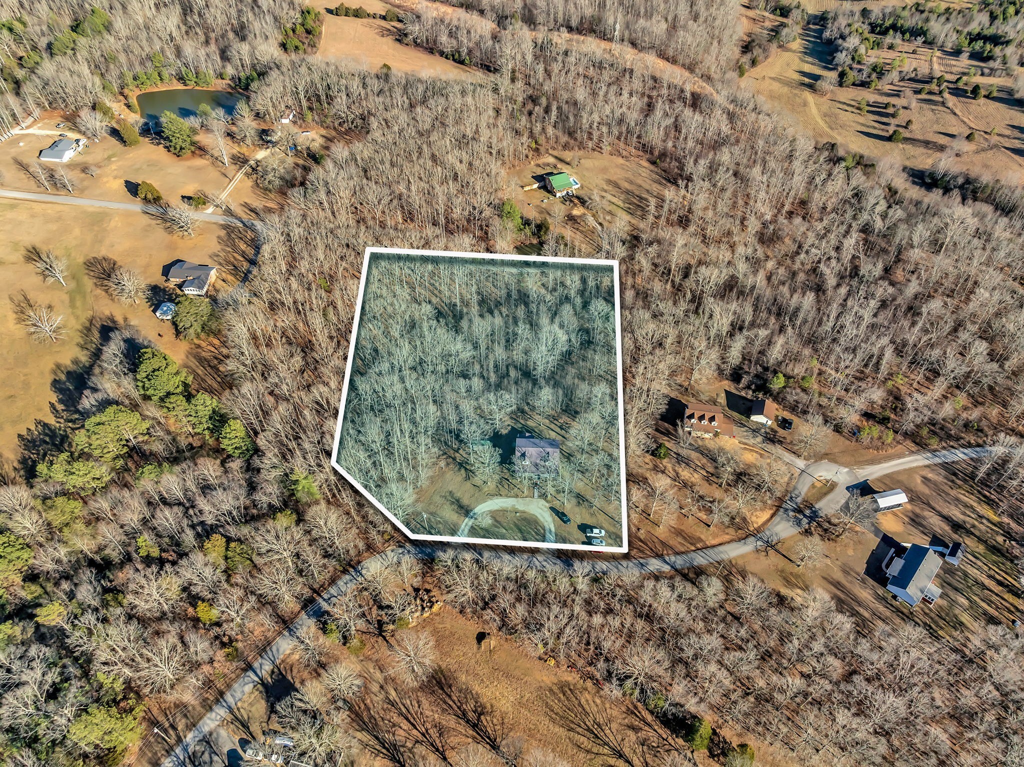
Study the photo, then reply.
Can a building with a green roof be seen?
Yes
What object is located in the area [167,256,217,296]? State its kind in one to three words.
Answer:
house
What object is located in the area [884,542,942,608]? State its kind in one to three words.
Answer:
house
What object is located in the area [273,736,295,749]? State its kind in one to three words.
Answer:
vehicle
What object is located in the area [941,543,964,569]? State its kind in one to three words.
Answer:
shed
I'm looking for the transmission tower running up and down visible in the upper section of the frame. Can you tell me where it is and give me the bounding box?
[611,25,624,58]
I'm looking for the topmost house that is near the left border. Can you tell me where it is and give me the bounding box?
[33,137,83,166]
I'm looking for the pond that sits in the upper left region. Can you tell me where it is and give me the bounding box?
[137,92,251,140]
